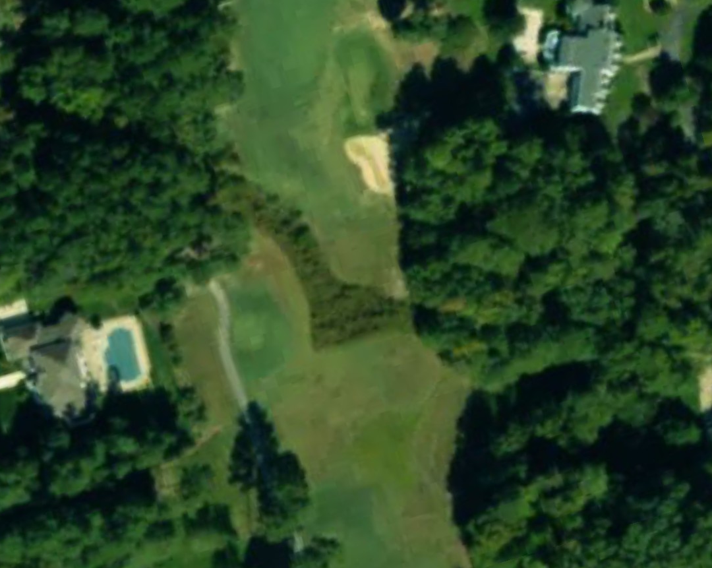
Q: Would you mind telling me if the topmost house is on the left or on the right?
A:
right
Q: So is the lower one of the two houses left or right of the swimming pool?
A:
to the left of it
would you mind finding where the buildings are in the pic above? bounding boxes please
[0,309,95,419]
[544,0,620,113]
